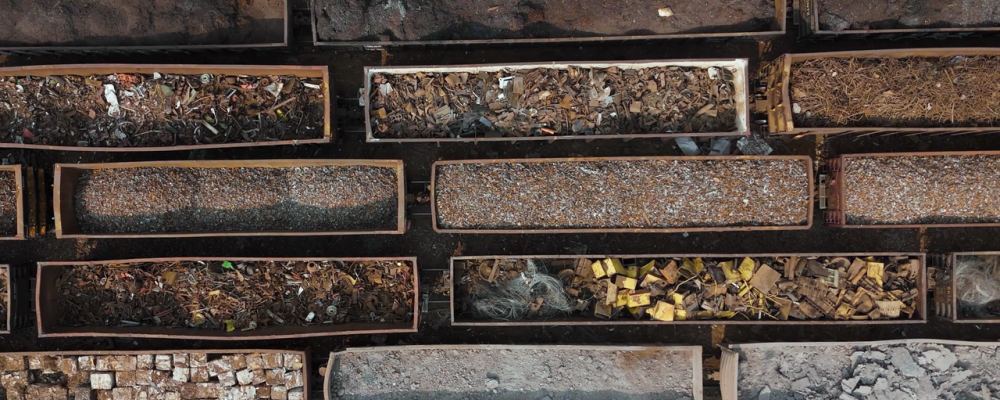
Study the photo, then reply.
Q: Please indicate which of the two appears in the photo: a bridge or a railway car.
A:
railway car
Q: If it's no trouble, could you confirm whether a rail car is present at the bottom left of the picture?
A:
Yes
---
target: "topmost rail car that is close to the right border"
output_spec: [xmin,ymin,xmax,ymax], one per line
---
[785,0,1000,49]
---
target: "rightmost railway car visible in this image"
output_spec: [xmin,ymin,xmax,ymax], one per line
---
[911,246,1000,323]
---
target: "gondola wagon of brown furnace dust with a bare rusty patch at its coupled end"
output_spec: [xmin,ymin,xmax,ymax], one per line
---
[0,0,314,61]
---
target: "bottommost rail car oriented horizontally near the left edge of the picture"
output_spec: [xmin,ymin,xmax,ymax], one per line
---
[0,338,327,400]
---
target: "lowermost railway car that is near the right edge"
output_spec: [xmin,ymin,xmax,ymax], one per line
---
[704,331,1000,400]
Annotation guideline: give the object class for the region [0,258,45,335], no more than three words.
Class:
rail car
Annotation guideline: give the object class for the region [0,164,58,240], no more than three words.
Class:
rail car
